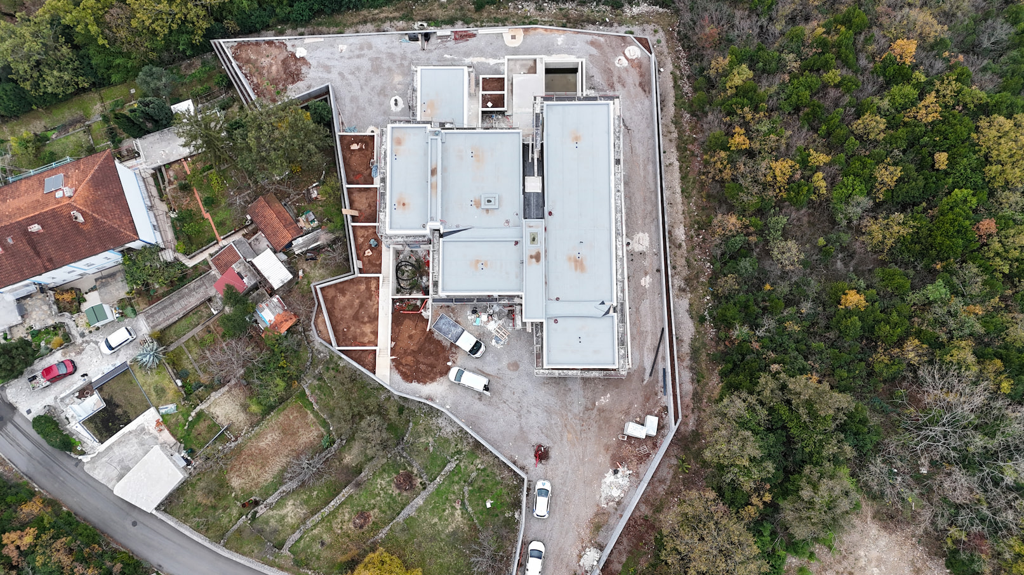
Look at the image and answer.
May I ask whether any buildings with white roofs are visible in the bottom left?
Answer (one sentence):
Yes, there is a building with a white roof in the bottom left.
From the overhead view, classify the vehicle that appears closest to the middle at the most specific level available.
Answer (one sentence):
The vehicle that appears closest to the middle appears to be a truck.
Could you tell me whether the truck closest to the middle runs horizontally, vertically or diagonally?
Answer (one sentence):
I'd say the truck closest to the middle is aligned diagonally in the picture.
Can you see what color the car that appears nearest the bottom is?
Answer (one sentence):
The car that appears nearest the bottom looks white in the image.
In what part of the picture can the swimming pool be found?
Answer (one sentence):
The swimming pool appears toward the top of the photo.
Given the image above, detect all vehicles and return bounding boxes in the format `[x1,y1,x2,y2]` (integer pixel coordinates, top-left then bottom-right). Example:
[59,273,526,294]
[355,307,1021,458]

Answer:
[524,540,547,575]
[533,479,554,520]
[24,358,78,393]
[100,324,139,356]
[431,311,487,359]
[447,367,493,397]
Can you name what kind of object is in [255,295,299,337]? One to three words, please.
shed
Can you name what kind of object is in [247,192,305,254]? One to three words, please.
shed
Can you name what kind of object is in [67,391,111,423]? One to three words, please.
house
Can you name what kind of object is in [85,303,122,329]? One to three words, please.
greenhouse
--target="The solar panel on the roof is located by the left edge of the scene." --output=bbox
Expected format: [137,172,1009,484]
[43,172,62,192]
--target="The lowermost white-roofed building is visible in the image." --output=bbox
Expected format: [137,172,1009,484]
[114,445,189,513]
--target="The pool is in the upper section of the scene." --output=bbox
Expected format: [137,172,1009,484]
[540,49,585,109]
